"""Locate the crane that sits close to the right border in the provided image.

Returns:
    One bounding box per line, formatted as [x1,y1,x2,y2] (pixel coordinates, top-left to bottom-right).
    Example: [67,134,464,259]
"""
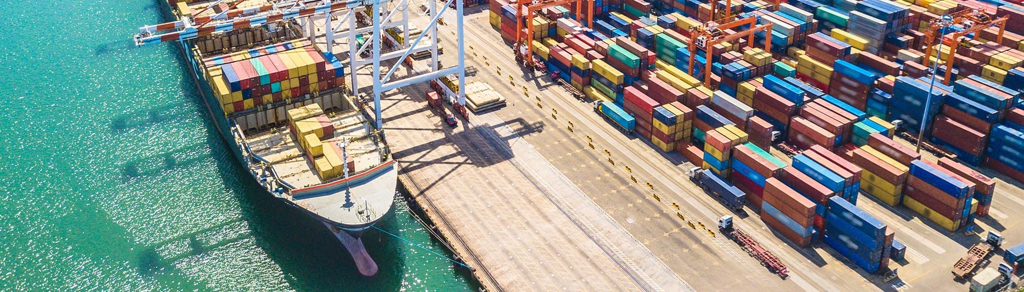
[924,3,1014,92]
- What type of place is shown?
port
